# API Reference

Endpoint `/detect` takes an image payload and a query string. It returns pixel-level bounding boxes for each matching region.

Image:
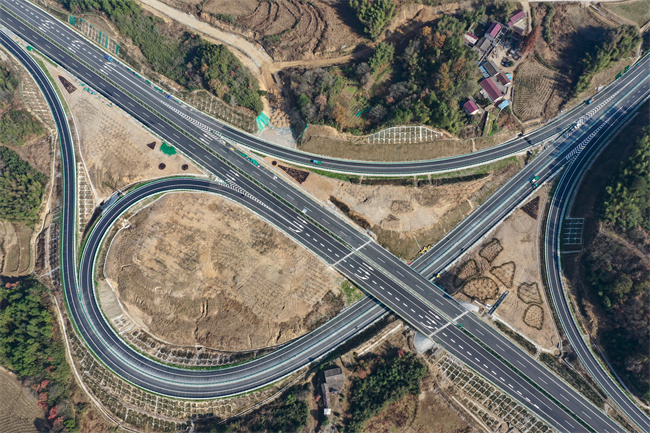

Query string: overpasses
[329,240,470,352]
